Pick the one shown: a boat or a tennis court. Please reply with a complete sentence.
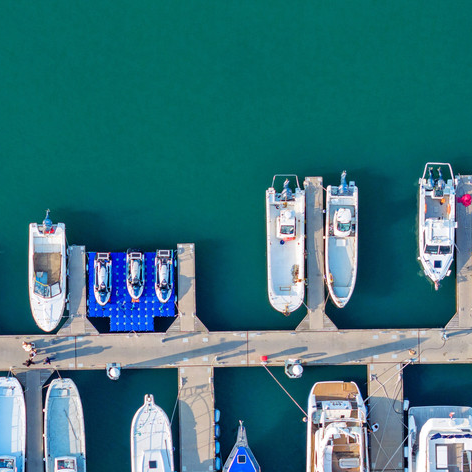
It is a boat that can be seen here.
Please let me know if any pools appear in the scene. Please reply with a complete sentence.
No, I find no pool anywhere in the image.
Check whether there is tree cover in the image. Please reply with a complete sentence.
No, no tree cover is visible.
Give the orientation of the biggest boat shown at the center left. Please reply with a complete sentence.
The biggest boat shown at the center left runs from top to bottom in the image.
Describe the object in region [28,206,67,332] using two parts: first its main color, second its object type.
white boat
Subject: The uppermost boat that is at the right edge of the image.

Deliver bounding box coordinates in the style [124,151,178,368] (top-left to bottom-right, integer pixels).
[416,163,460,291]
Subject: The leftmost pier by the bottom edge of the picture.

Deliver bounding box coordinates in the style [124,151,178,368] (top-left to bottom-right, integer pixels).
[14,370,54,472]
